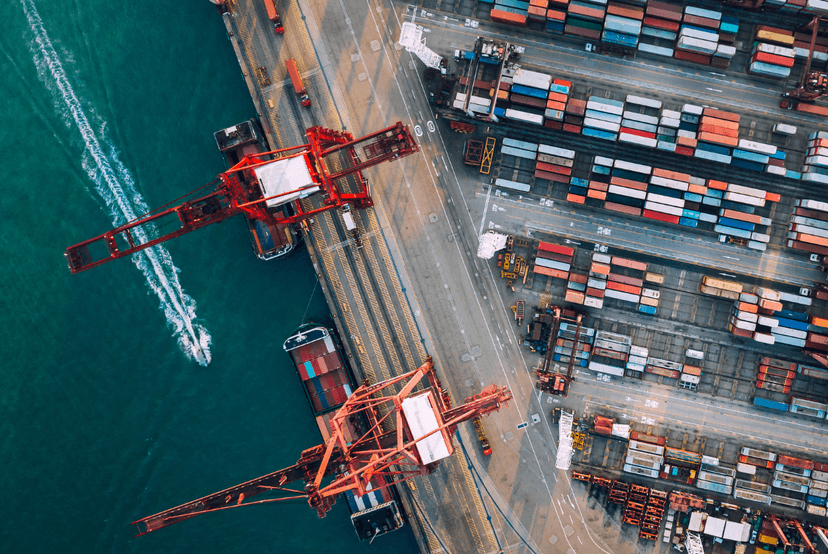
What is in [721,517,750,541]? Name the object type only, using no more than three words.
shed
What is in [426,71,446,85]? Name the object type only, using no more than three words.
vehicle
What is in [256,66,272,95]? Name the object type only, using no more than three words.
work vehicle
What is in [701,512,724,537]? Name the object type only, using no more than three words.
shed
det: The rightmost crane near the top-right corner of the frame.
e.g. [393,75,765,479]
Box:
[771,14,828,116]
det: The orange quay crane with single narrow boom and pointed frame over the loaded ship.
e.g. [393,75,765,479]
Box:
[132,352,517,539]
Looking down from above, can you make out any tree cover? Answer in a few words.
No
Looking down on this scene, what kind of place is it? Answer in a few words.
port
